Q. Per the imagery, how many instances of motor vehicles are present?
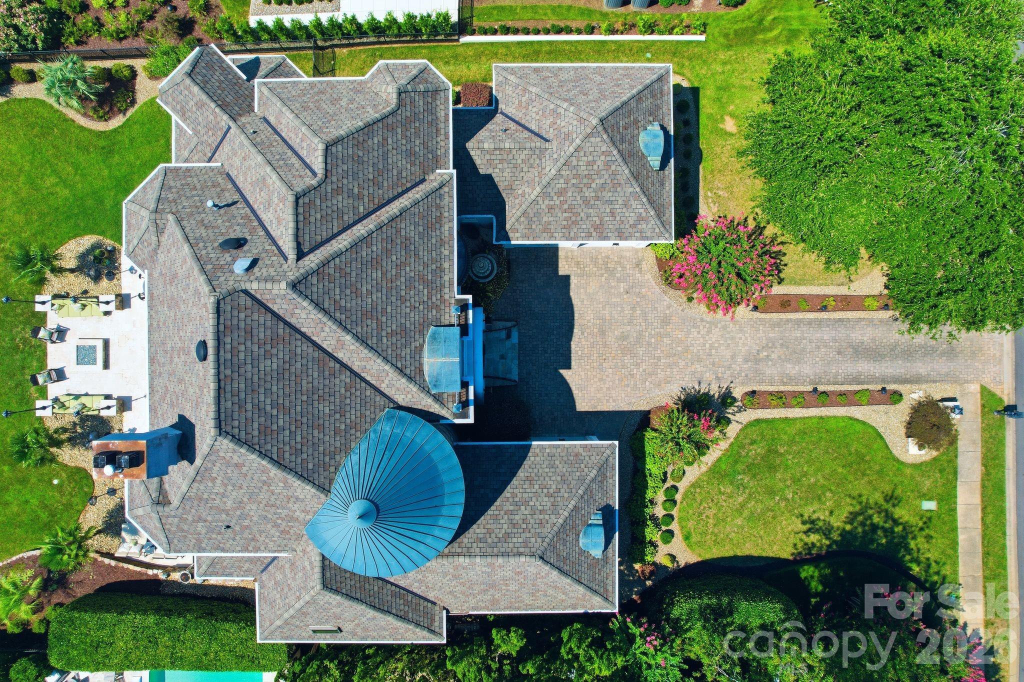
0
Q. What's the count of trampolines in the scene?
none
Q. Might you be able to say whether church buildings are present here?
No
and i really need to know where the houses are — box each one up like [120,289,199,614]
[87,35,676,645]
